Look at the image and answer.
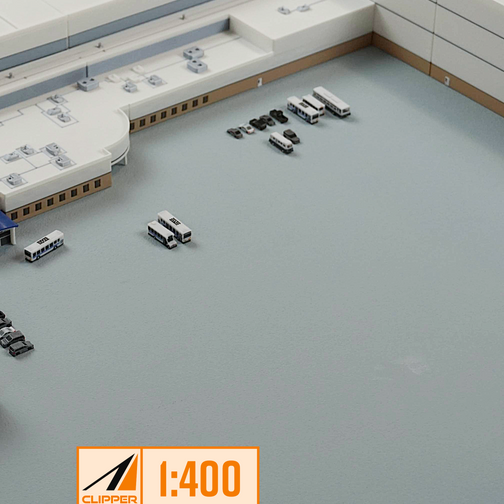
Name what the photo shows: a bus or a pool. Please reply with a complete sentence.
There is a bus in the scene.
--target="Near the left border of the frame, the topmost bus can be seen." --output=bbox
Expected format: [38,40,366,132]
[24,230,65,260]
